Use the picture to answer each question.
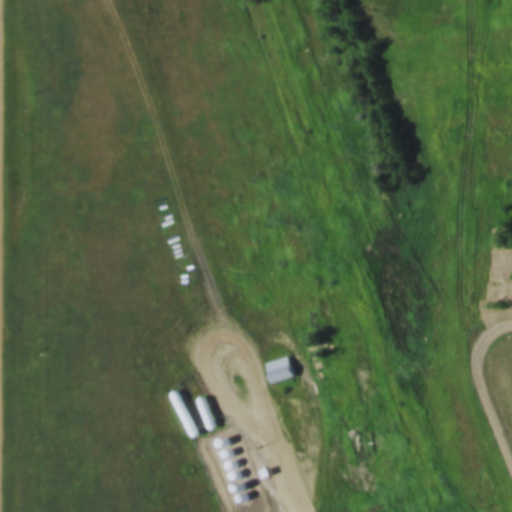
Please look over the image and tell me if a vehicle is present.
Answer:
No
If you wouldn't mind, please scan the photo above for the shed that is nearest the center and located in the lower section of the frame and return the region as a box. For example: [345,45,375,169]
[265,356,296,384]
